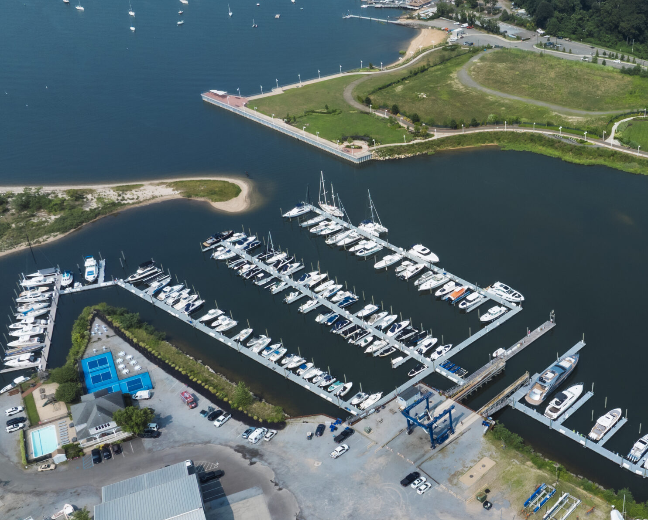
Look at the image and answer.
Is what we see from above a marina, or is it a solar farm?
marina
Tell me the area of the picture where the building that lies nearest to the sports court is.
bottom left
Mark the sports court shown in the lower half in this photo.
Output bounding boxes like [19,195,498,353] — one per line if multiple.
[82,352,153,394]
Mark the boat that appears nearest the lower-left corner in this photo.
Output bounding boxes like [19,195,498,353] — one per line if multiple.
[1,375,32,392]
